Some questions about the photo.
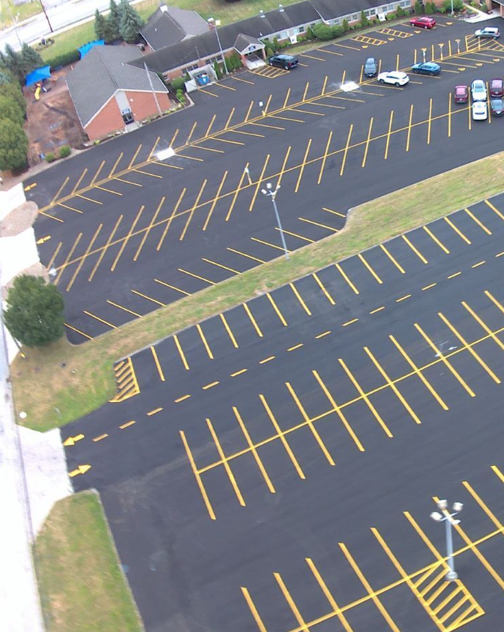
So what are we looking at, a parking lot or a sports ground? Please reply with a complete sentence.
This image shows a parking lot.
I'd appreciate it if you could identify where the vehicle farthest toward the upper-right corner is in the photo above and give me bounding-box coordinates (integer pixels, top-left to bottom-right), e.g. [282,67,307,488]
[474,27,503,41]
